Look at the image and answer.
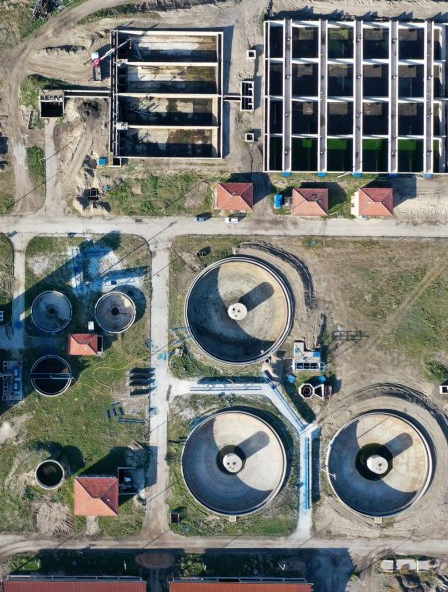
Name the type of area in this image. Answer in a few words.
industrial area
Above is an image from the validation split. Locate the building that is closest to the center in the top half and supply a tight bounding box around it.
[218,183,253,211]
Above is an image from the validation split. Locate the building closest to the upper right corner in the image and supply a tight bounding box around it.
[357,189,392,216]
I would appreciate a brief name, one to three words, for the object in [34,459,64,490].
storage tank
